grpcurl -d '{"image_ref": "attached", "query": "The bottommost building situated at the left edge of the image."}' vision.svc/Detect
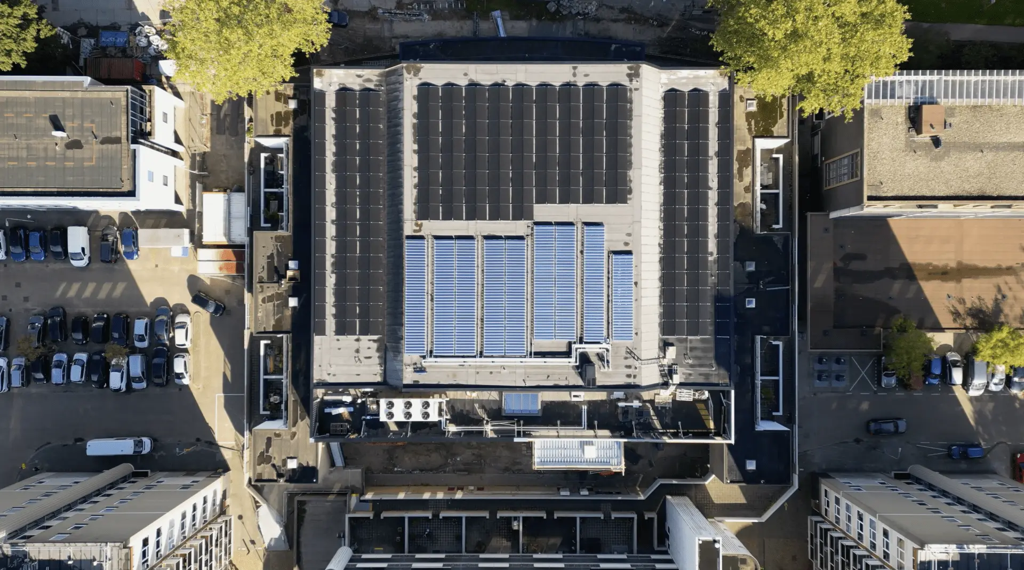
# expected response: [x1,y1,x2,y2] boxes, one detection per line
[0,461,237,570]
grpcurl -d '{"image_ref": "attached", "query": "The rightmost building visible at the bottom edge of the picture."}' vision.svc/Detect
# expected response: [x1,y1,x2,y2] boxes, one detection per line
[805,461,1024,570]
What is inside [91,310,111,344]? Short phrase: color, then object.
black car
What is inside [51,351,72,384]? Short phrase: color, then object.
blue car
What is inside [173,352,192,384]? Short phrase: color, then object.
white car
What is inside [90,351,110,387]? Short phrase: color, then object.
black car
